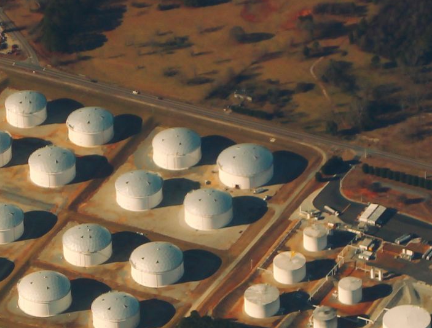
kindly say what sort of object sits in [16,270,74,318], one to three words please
storage tank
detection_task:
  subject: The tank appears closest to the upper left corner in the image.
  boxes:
[3,90,48,129]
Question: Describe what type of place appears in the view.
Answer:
industrial area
